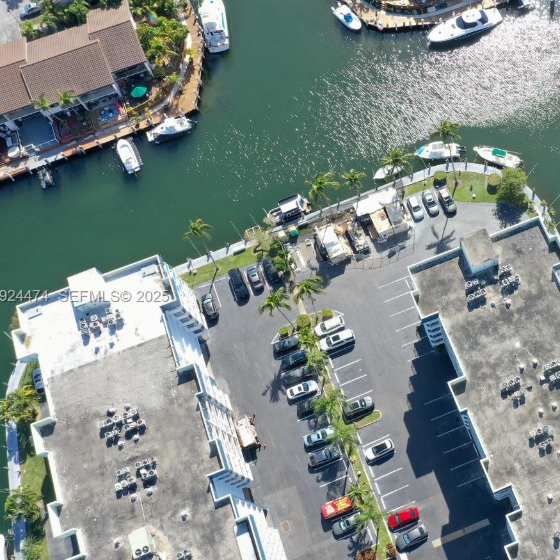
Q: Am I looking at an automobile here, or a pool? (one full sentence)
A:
The image shows an automobile.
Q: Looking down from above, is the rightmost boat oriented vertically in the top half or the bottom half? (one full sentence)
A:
It is in the top half that the rightmost boat oriented vertically appears.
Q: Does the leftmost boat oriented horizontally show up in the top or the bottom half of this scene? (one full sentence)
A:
It is in the top half that the leftmost boat oriented horizontally appears.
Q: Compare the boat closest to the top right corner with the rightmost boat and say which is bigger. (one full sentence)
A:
It is the boat closest to the top right corner that is larger, not the rightmost boat.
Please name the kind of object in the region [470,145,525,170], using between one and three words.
boat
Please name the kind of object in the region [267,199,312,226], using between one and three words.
boat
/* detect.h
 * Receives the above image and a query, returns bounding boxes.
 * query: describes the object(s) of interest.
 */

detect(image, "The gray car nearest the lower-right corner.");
[394,524,430,549]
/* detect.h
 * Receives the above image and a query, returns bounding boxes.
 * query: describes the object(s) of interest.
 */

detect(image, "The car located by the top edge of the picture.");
[17,3,45,22]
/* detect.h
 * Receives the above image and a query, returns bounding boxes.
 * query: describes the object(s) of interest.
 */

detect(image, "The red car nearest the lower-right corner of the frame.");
[386,504,421,528]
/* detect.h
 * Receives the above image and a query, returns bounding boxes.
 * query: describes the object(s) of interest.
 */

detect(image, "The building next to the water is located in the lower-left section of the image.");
[11,255,290,560]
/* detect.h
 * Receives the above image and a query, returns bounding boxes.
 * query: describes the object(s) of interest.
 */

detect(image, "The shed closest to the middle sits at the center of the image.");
[316,225,346,264]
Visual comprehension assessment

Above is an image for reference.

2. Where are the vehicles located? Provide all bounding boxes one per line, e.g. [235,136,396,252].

[301,426,335,447]
[319,328,356,351]
[280,366,313,385]
[293,394,323,416]
[386,504,421,528]
[394,524,430,549]
[405,193,425,223]
[420,188,439,217]
[437,186,457,216]
[306,447,342,468]
[260,257,284,287]
[245,265,265,294]
[278,347,311,371]
[317,493,357,517]
[286,382,320,401]
[363,438,398,463]
[201,292,221,322]
[30,367,47,397]
[339,394,379,418]
[226,265,250,301]
[270,332,303,355]
[17,3,45,22]
[313,314,346,337]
